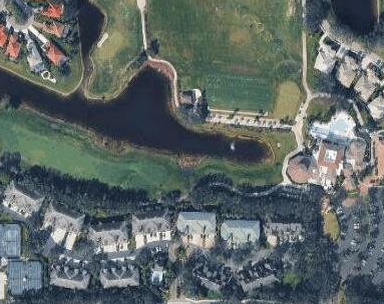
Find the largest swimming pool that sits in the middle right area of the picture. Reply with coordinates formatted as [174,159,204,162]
[311,117,349,141]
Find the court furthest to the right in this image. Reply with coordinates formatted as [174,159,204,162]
[25,261,42,295]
